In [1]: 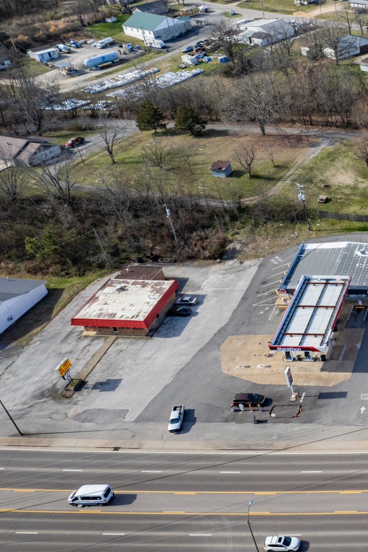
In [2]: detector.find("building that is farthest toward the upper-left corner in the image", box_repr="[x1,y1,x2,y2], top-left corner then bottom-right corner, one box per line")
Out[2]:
[24,43,58,61]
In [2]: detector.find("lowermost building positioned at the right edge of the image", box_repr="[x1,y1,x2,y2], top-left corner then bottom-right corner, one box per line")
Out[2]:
[279,241,368,309]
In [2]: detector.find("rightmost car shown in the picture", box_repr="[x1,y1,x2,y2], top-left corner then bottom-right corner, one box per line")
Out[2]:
[263,534,302,552]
